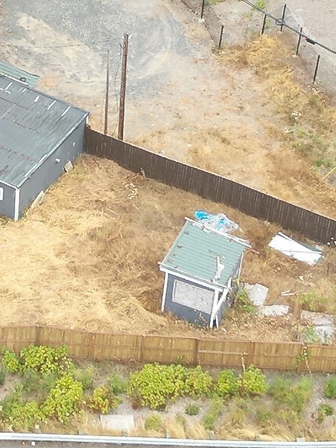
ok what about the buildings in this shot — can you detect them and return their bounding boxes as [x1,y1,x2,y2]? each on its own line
[0,63,91,223]
[155,223,262,329]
